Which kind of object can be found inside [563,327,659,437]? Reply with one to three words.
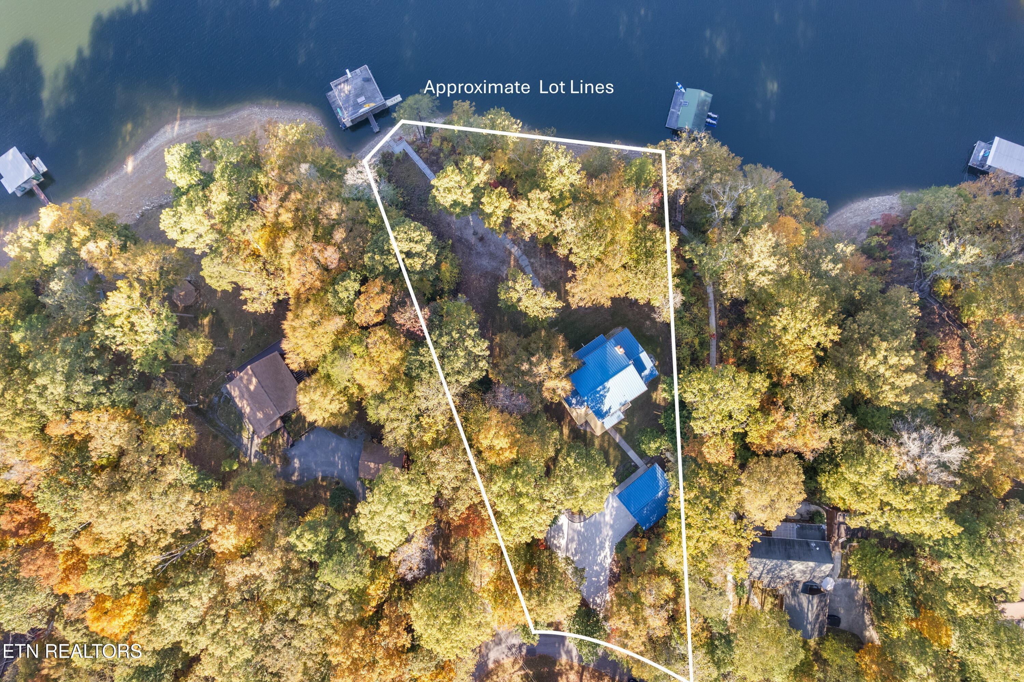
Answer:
house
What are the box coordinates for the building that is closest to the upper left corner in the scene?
[0,146,45,199]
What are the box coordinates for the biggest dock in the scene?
[326,62,387,131]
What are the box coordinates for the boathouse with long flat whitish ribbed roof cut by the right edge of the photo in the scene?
[967,137,1024,188]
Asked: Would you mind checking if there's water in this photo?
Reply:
Yes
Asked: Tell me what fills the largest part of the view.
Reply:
trees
